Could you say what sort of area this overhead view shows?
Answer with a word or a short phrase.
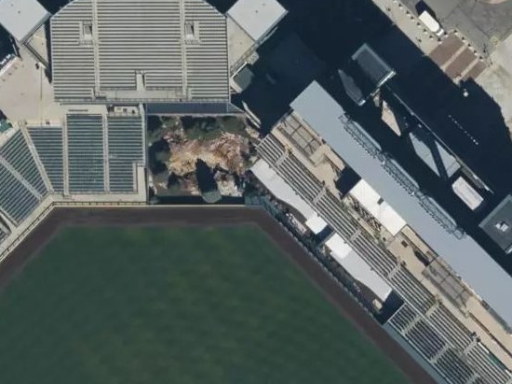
sports ground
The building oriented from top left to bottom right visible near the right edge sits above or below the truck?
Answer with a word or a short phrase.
below it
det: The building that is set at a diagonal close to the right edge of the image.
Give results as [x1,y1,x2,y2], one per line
[365,84,497,221]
